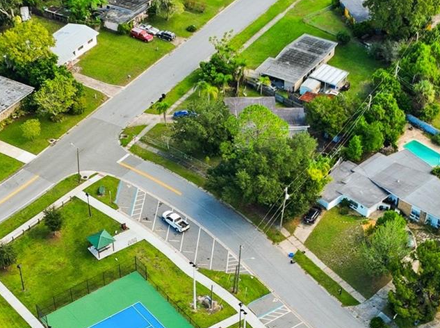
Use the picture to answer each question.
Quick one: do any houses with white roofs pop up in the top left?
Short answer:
Yes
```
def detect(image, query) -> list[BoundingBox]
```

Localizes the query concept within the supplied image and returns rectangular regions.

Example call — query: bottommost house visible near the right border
[322,150,440,231]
